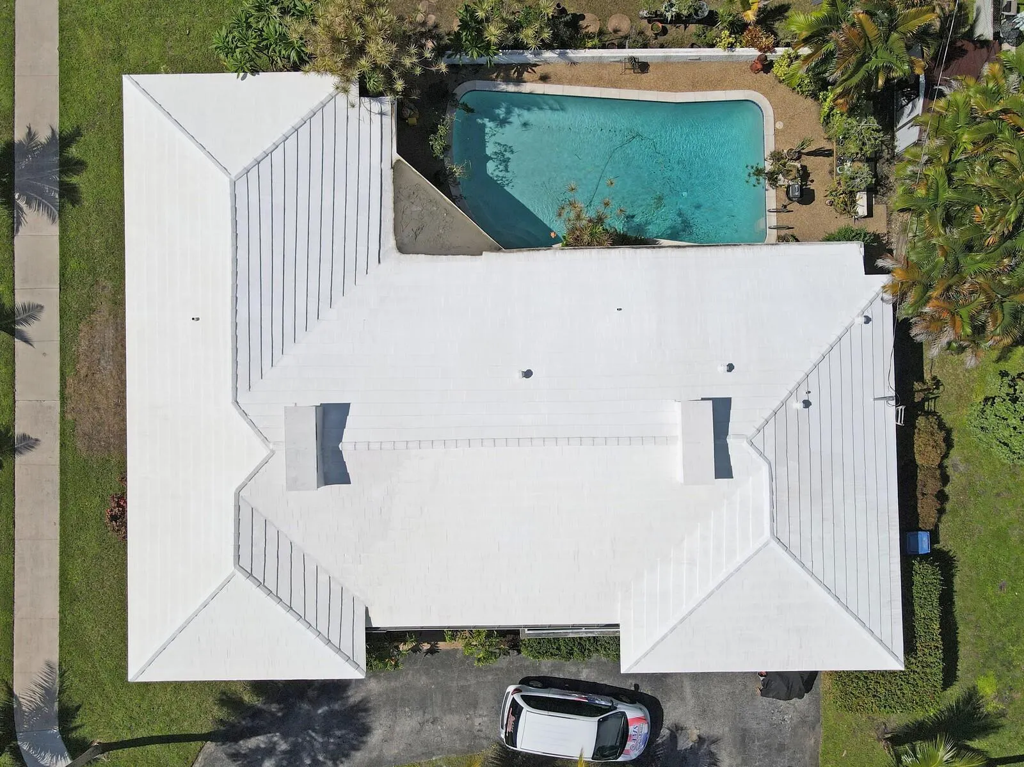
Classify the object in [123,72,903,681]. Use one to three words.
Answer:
house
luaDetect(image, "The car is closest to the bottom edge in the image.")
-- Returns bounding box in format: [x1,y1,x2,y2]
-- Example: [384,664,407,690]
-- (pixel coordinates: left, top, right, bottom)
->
[501,678,649,767]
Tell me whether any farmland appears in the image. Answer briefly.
No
